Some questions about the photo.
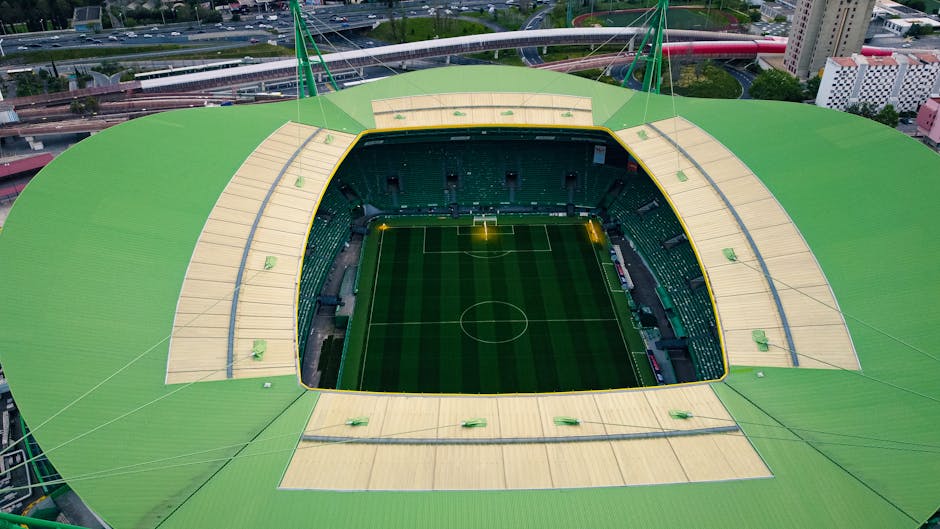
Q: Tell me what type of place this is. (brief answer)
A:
sports ground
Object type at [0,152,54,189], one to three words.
shed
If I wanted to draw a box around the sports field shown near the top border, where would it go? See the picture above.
[573,6,751,50]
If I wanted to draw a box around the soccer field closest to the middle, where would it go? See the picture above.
[357,222,644,397]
